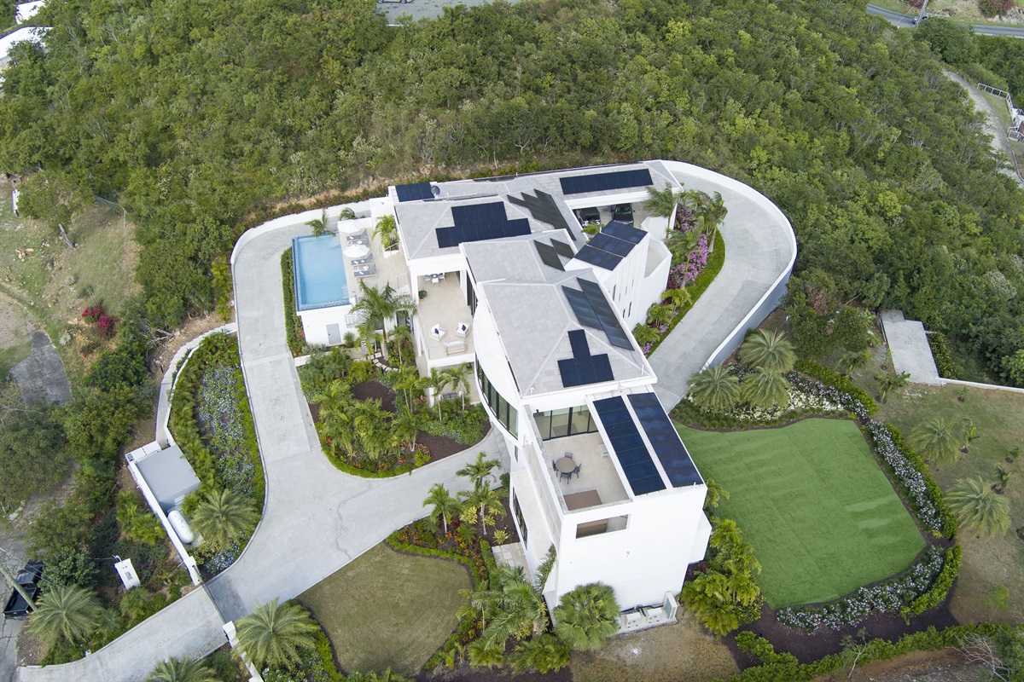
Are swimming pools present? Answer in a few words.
Yes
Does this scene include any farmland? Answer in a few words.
No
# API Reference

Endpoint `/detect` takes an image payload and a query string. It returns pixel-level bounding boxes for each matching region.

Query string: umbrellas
[335,218,362,243]
[342,242,372,272]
